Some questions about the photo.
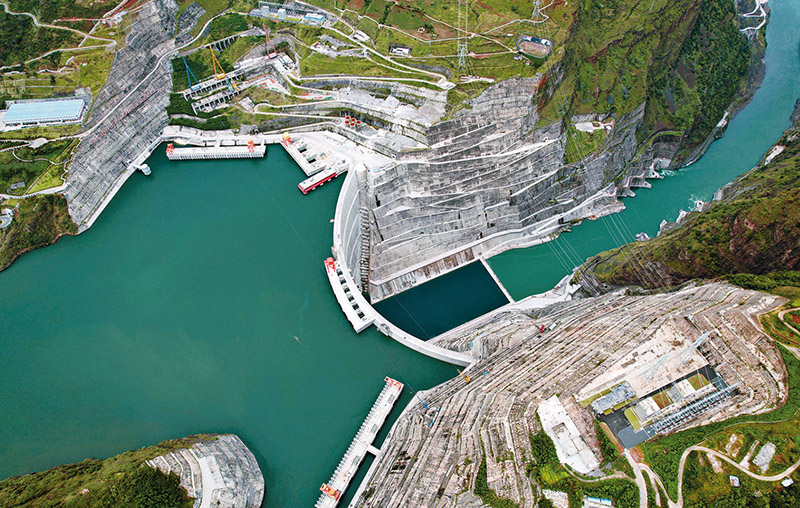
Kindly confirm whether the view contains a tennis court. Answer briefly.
No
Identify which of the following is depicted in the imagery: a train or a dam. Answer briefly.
dam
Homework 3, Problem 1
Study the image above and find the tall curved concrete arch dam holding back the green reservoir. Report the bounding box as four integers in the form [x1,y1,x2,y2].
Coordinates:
[318,166,484,370]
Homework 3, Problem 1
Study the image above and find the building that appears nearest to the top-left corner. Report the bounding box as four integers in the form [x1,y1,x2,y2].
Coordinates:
[1,94,91,129]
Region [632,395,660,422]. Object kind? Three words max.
building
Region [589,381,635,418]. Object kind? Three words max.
building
